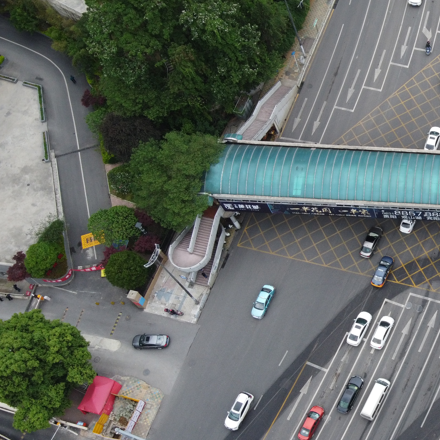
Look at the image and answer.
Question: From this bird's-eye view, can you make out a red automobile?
Yes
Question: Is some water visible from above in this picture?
No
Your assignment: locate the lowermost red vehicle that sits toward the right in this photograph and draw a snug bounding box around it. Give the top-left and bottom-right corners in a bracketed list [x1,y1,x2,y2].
[297,404,324,440]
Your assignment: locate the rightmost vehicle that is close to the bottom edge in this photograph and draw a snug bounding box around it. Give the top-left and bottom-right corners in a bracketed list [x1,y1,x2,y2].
[359,376,390,422]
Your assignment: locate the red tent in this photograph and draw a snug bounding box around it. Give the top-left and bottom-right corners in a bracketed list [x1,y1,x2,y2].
[77,375,129,419]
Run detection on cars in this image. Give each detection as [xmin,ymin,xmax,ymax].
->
[370,315,394,351]
[401,221,417,235]
[372,256,393,287]
[337,375,364,413]
[131,333,170,350]
[347,312,372,347]
[359,376,390,422]
[425,126,440,149]
[297,404,324,440]
[225,390,252,430]
[252,284,275,319]
[359,226,382,259]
